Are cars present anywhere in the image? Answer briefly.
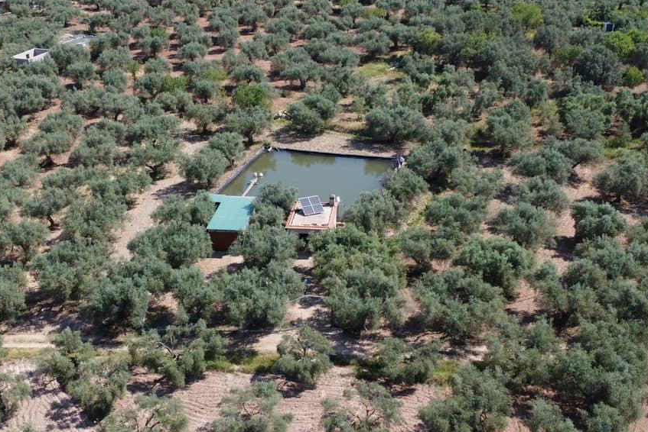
No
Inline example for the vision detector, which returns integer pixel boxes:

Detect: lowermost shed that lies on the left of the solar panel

[206,195,256,251]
